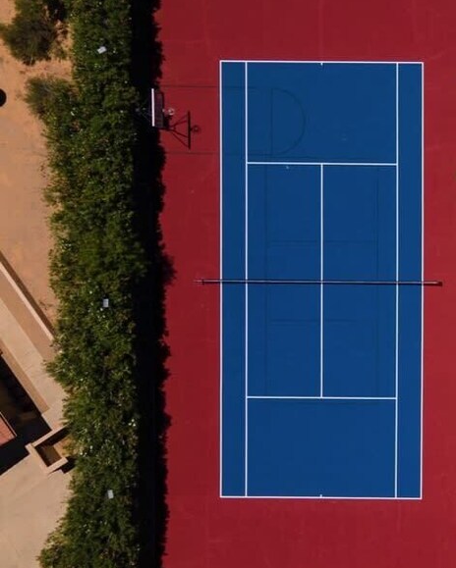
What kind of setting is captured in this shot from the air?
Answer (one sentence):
What you see here is a sports ground.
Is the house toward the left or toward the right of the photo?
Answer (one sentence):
You can find the house on the left side of the picture.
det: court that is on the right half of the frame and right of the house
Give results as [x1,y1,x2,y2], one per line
[160,0,456,568]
